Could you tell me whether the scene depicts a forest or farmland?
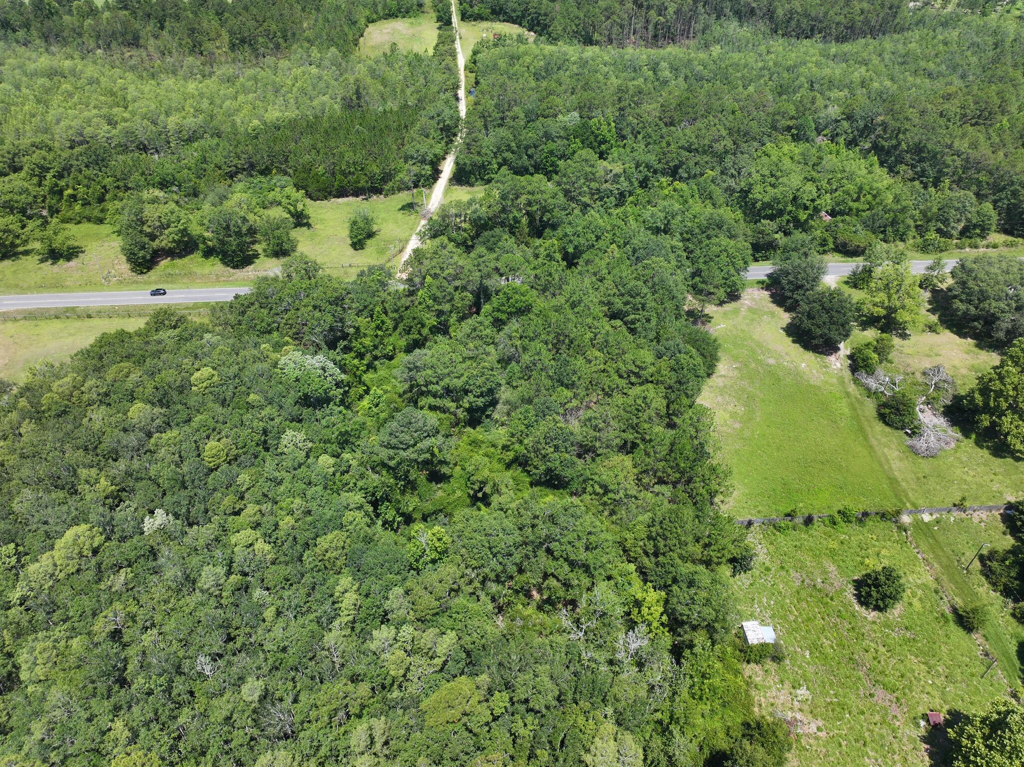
forest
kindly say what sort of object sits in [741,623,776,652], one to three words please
shed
